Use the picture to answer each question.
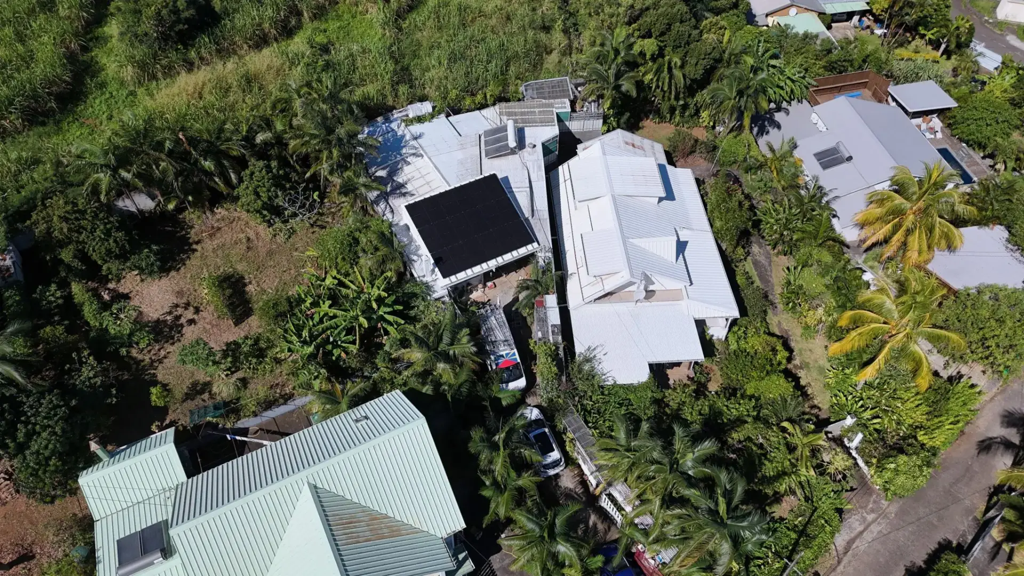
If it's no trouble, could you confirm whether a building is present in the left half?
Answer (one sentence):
Yes, a building can be seen in the left half.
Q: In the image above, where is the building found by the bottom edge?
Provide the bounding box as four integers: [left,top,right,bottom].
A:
[79,390,479,576]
